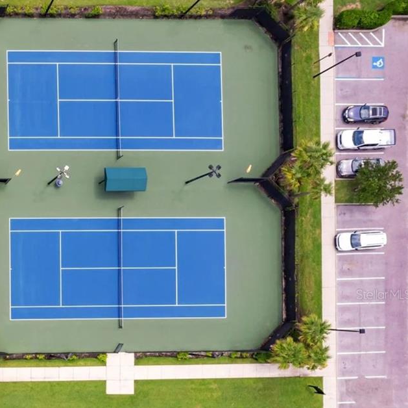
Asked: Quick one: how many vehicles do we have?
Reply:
4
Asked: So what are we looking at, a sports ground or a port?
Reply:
sports ground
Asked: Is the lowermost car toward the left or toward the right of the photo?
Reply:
right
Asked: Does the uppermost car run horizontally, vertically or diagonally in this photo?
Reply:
horizontally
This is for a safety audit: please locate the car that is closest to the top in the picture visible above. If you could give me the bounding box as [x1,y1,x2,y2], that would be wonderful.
[341,103,390,125]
